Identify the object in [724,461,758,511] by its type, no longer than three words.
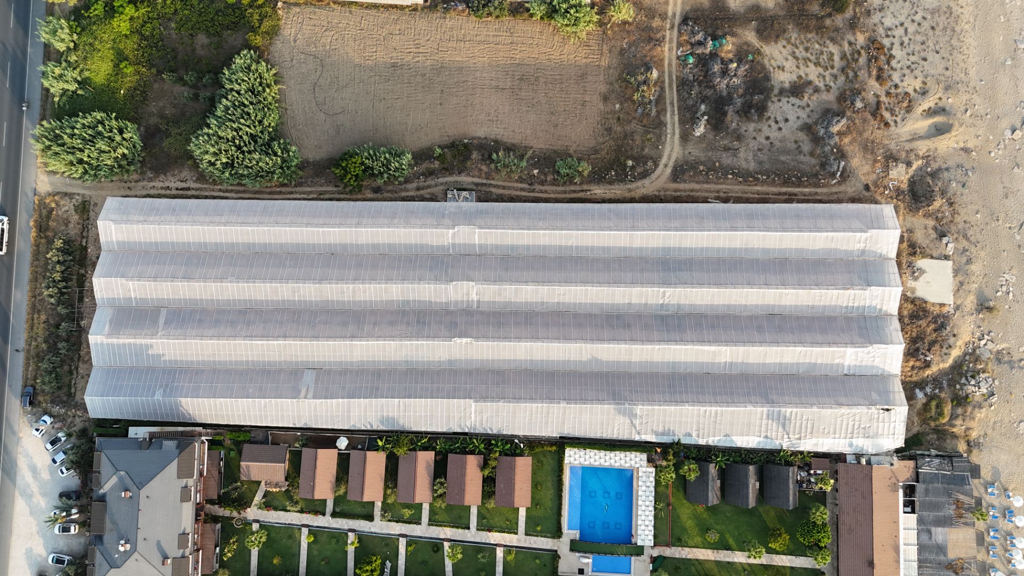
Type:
shed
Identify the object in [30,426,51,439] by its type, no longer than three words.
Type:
vehicle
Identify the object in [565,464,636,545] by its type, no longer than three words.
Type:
swimming pool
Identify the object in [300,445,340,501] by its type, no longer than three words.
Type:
house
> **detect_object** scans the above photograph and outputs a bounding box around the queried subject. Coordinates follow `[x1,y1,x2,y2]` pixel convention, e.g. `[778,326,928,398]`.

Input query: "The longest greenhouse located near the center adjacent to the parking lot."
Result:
[84,197,908,454]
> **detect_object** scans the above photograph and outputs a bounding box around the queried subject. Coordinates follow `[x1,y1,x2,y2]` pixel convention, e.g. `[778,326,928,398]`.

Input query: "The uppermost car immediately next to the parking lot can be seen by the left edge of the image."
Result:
[21,385,36,409]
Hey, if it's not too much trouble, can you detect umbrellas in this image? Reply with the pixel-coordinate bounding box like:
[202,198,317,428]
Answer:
[1007,548,1021,558]
[1010,536,1024,548]
[1009,558,1024,570]
[336,437,348,449]
[1013,515,1024,526]
[1010,495,1023,506]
